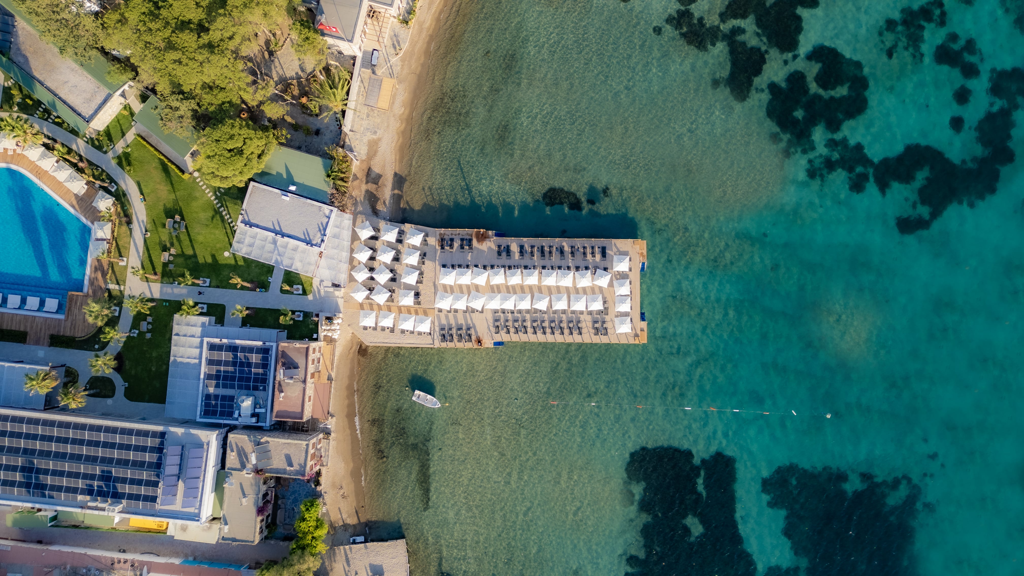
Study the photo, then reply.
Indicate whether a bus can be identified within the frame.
No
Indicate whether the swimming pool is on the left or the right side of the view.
left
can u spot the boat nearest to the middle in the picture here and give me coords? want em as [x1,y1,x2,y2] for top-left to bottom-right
[412,390,441,407]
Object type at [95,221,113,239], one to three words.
umbrella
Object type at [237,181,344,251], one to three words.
building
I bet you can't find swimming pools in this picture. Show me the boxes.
[0,163,94,320]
